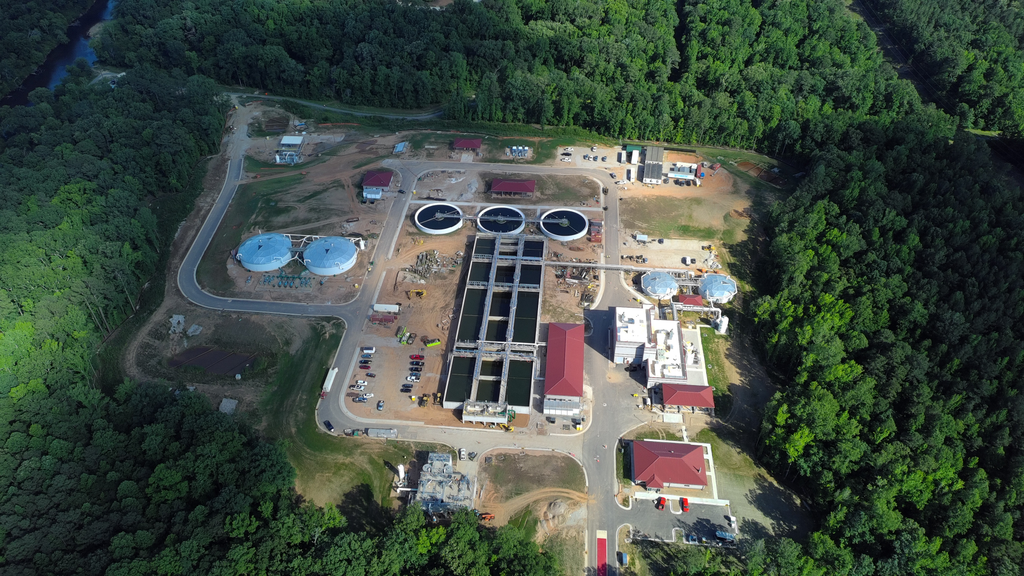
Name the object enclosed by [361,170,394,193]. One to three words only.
building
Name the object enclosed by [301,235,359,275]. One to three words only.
storage tank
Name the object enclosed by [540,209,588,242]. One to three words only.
storage tank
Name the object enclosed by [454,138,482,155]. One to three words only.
building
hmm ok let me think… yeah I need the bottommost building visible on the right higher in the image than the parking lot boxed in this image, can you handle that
[633,441,707,493]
